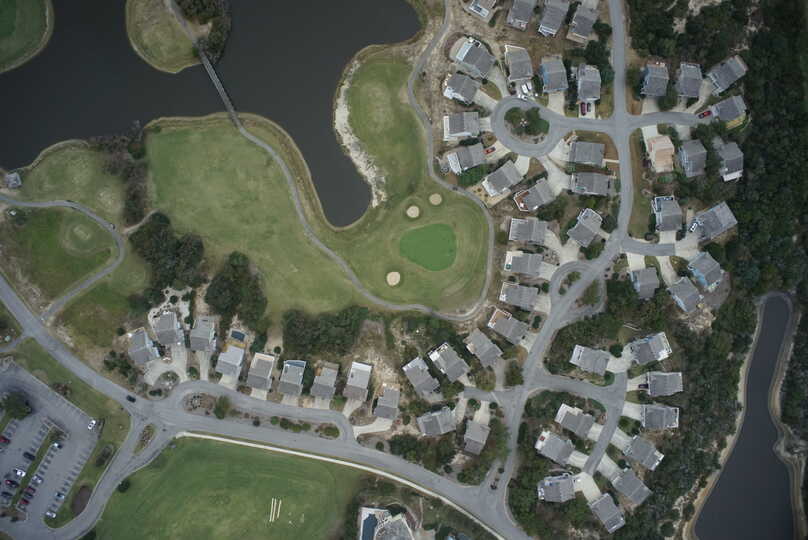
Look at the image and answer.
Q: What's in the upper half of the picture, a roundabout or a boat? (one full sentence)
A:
Looking in the upper half of the picture, you will find a roundabout.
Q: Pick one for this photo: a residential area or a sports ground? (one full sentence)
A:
This looks like a residential area.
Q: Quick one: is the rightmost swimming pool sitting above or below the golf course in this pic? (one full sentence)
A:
Looking at the photo, you'll find the rightmost swimming pool below the golf course.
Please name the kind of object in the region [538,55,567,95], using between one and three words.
house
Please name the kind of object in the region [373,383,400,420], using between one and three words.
house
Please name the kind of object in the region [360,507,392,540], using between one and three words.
swimming pool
